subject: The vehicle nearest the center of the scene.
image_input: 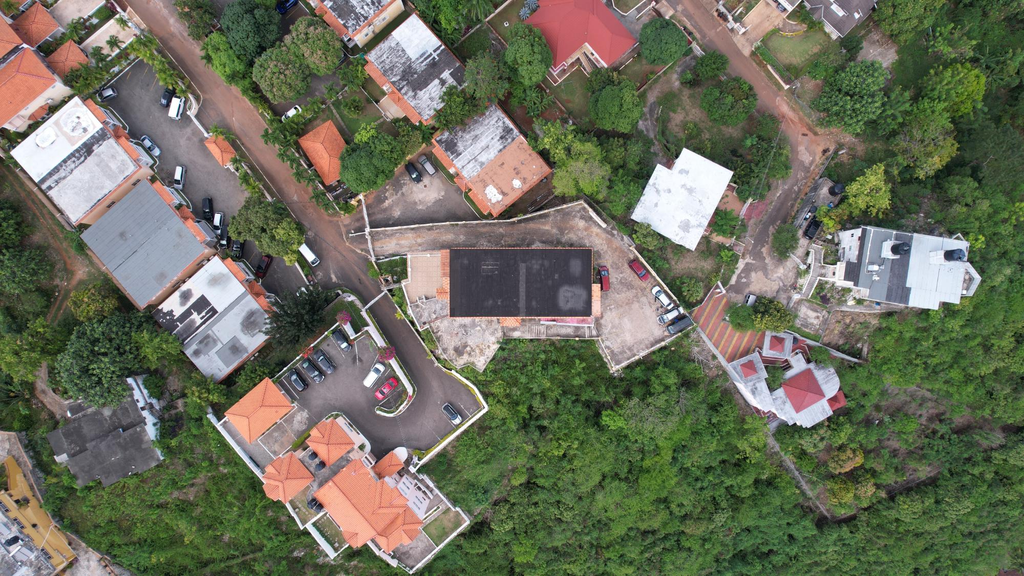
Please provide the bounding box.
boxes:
[598,265,612,293]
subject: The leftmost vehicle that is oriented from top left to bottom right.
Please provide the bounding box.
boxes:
[139,131,163,160]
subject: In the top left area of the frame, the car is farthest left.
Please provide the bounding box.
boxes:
[94,86,123,104]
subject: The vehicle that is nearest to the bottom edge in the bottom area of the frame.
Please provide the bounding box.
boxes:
[440,399,463,428]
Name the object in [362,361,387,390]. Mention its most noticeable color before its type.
white car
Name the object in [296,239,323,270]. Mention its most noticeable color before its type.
white vehicle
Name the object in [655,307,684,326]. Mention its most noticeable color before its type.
white car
